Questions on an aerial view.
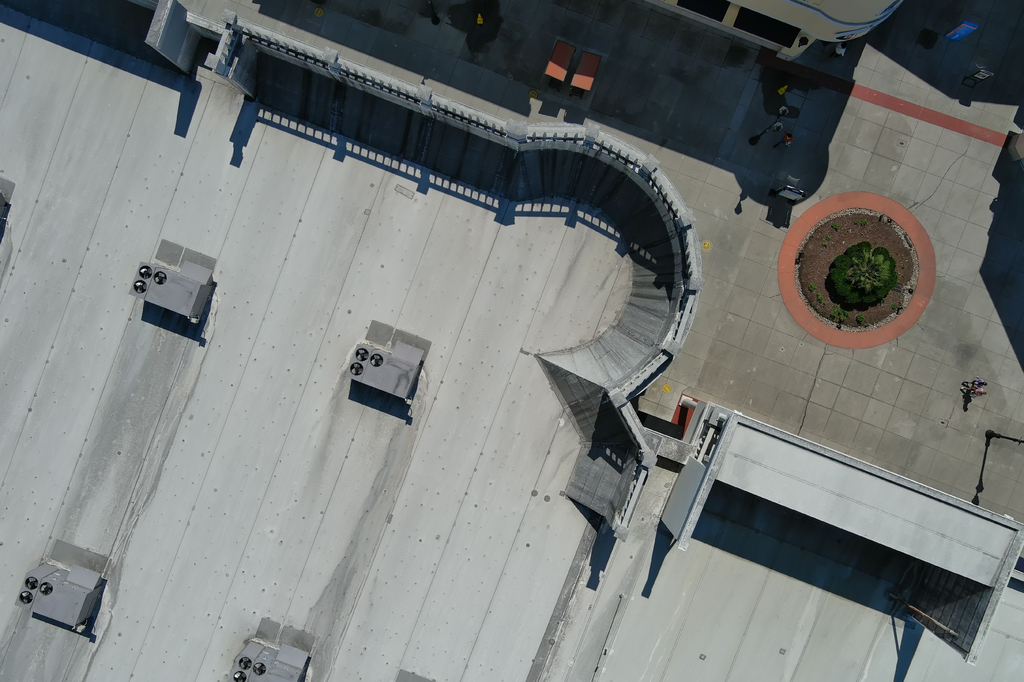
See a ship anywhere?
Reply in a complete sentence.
No, the frame has no ship in it.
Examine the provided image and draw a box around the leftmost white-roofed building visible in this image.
[0,0,701,682]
